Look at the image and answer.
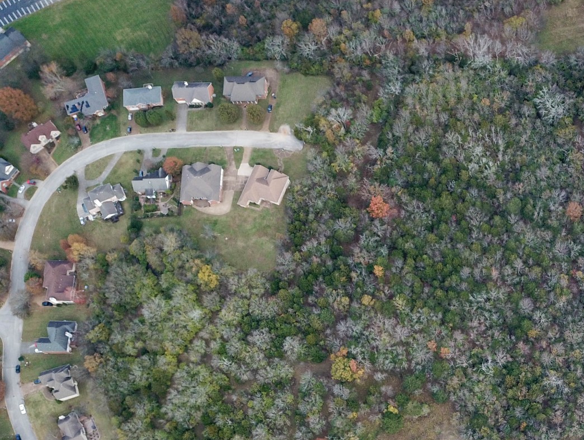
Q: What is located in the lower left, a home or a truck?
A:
home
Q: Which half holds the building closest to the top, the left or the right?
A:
left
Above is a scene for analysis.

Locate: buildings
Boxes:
[34,319,79,353]
[222,77,266,104]
[58,412,101,440]
[169,82,213,106]
[83,184,129,222]
[130,168,171,200]
[239,166,290,208]
[45,258,78,305]
[0,26,31,68]
[123,85,163,110]
[64,75,112,120]
[177,162,224,208]
[21,120,63,151]
[38,364,84,401]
